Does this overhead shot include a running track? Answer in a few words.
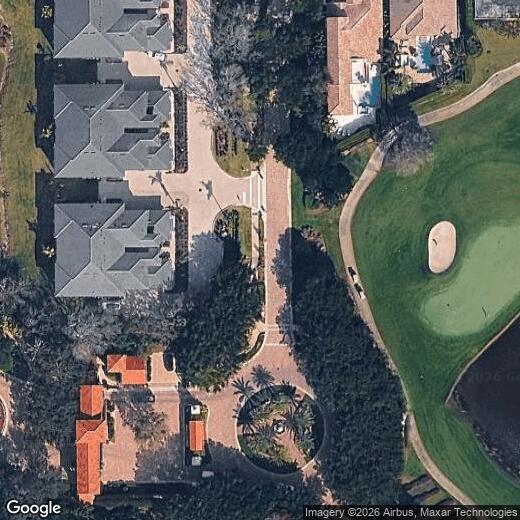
No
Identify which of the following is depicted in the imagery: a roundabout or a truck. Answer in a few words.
roundabout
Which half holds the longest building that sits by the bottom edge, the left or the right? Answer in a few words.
left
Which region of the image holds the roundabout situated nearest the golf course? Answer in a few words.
bottom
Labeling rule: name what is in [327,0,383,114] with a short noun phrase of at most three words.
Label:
house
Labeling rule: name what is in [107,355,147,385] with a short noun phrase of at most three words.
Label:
building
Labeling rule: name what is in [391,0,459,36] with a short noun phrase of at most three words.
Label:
house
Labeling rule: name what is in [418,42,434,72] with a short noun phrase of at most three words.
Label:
swimming pool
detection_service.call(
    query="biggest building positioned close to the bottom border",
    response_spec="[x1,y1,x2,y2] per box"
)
[75,420,107,505]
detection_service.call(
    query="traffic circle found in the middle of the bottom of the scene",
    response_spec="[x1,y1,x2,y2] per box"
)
[222,373,335,488]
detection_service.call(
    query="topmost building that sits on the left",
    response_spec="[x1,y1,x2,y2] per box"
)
[53,0,172,57]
